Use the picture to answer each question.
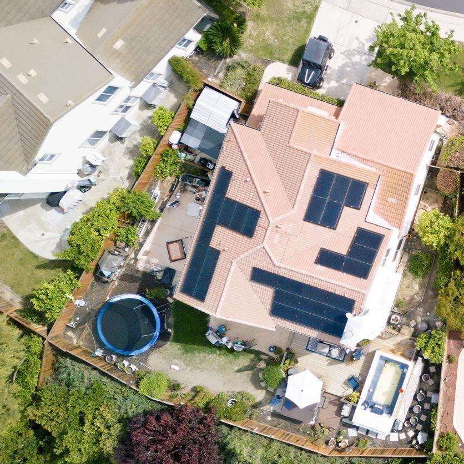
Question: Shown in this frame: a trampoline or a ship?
trampoline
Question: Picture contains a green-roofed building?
No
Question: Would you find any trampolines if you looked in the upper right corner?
No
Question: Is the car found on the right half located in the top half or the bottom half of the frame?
top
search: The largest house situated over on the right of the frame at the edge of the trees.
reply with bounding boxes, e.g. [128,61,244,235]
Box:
[170,80,443,349]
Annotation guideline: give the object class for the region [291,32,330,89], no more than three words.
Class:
car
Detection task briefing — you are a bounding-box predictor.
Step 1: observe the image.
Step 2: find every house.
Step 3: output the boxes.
[0,0,214,194]
[170,80,443,349]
